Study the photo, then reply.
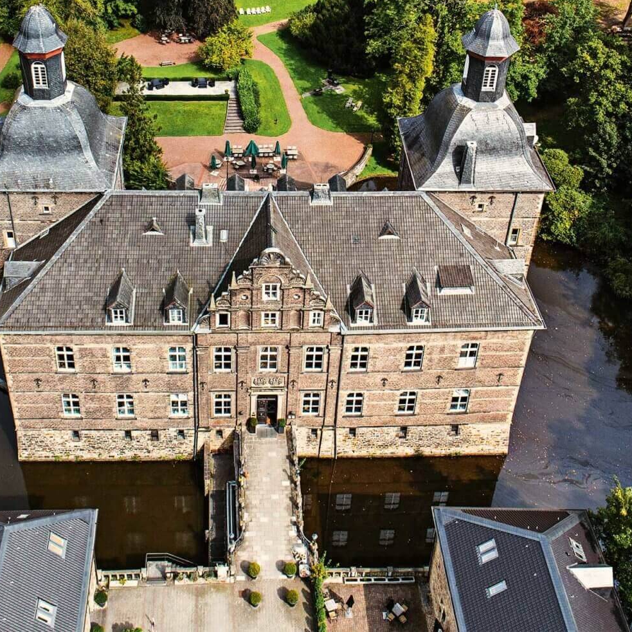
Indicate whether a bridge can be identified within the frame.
Yes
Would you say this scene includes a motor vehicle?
No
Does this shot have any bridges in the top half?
No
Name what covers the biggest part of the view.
buildings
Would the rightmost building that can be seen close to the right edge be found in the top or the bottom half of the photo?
bottom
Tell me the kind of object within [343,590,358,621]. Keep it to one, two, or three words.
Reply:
umbrella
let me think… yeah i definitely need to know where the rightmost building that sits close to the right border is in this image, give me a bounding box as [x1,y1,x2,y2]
[429,503,631,632]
